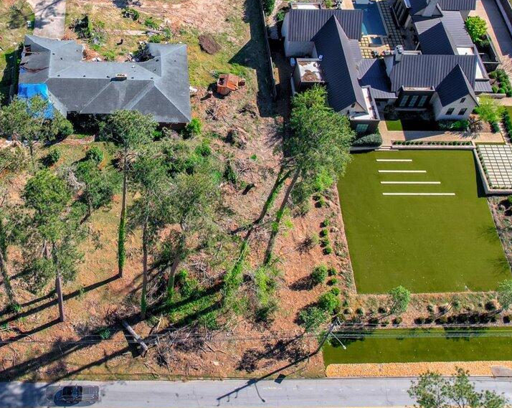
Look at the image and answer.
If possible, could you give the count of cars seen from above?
one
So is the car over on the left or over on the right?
left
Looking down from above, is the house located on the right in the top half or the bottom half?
top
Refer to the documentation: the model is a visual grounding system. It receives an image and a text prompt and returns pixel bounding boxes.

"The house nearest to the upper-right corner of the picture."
[278,0,494,135]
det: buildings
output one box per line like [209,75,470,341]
[16,35,190,131]
[278,0,494,135]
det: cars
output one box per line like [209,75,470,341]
[57,384,97,405]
